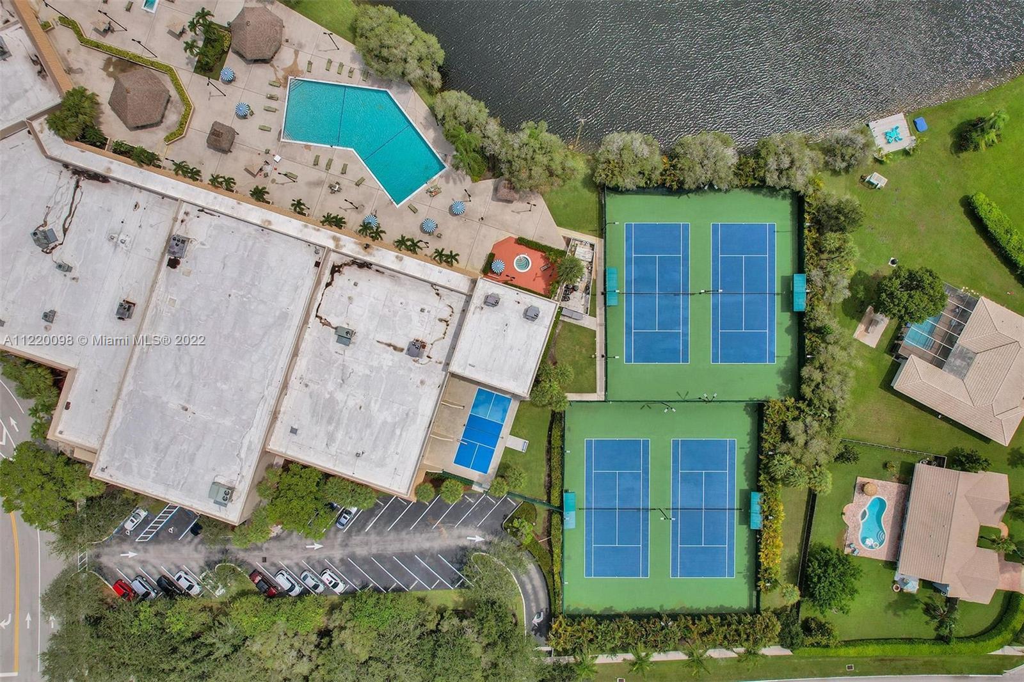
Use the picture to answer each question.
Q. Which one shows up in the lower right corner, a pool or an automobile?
pool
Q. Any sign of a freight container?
No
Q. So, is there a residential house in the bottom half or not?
Yes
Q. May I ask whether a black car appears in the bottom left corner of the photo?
Yes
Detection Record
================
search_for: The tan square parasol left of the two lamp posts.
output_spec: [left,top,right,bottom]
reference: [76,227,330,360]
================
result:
[92,15,111,34]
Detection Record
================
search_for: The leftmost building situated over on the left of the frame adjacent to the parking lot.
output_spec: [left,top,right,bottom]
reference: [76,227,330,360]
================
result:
[0,0,560,528]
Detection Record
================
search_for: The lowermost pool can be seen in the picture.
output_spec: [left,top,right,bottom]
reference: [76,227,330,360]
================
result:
[858,495,889,552]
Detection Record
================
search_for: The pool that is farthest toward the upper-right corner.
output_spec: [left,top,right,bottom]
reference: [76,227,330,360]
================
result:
[903,304,949,352]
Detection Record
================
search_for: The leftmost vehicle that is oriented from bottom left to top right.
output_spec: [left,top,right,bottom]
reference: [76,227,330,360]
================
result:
[124,506,149,534]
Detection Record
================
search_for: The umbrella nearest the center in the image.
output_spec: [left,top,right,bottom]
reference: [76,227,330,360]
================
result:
[491,259,505,273]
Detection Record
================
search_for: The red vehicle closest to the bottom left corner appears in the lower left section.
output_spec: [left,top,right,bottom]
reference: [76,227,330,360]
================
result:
[115,578,138,602]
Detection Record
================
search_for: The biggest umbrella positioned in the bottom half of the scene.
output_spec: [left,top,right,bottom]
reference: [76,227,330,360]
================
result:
[861,481,876,495]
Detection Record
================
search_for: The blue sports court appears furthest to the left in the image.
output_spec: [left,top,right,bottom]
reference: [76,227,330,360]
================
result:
[453,387,512,474]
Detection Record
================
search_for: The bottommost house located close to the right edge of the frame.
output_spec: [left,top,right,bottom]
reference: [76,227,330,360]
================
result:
[892,463,1010,604]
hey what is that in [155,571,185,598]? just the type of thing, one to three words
car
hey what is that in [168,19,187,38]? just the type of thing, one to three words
umbrella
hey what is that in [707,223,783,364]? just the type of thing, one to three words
tennis court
